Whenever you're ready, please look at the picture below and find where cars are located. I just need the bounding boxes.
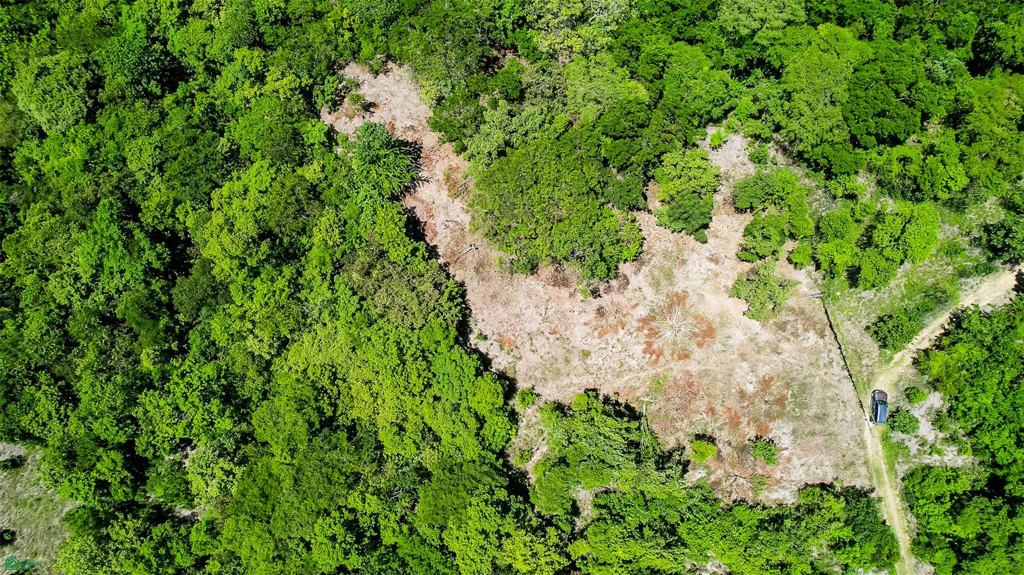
[869,390,890,425]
